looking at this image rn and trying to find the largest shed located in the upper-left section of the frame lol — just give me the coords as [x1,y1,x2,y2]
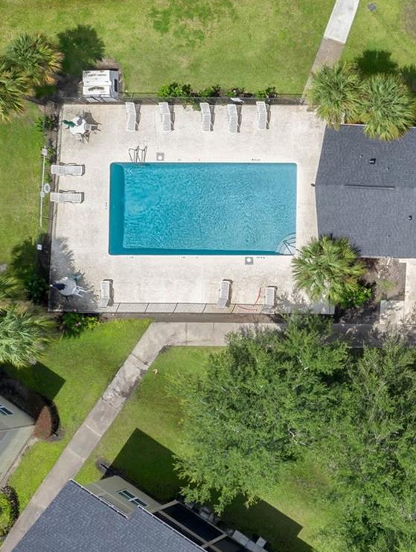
[79,69,116,99]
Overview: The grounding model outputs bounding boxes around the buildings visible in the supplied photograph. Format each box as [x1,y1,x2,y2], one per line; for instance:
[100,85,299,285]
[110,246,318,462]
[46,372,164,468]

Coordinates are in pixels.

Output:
[1,471,249,552]
[79,69,116,99]
[0,399,37,468]
[308,124,416,260]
